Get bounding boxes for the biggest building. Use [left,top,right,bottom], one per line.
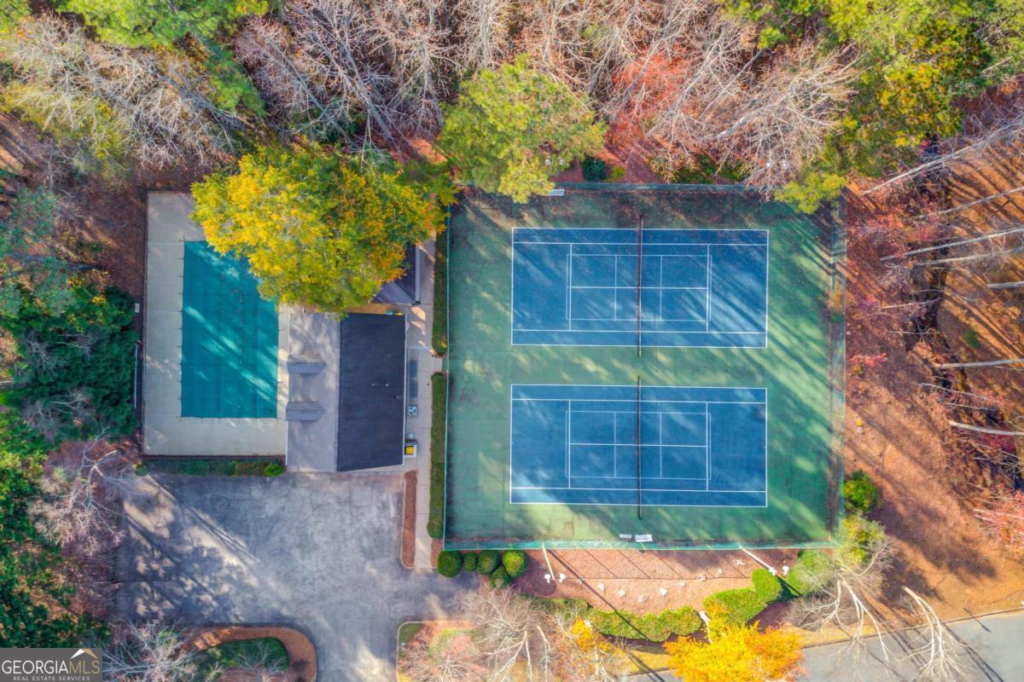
[281,313,405,471]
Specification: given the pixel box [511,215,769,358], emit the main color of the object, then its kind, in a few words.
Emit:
blue tennis court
